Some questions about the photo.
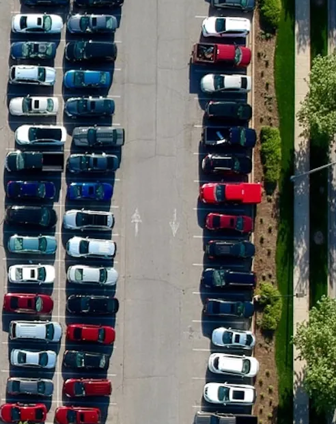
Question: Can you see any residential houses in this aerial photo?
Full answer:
No, no residential house can be seen from above.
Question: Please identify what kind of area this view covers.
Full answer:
The area seen from above is a parking lot.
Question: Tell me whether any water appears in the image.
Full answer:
No, there is no water in the image.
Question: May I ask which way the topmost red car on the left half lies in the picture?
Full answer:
The topmost red car on the left half is laid out horizontally.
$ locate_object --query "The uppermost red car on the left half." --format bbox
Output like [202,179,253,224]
[3,293,52,315]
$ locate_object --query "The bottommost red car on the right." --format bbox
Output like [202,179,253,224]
[205,211,252,234]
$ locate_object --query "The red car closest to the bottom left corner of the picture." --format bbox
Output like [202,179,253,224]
[0,402,46,424]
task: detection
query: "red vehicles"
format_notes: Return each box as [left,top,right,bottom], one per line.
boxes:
[3,293,52,315]
[189,41,251,66]
[205,211,252,234]
[198,180,263,205]
[63,377,111,399]
[66,324,114,346]
[0,402,46,424]
[53,405,99,424]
